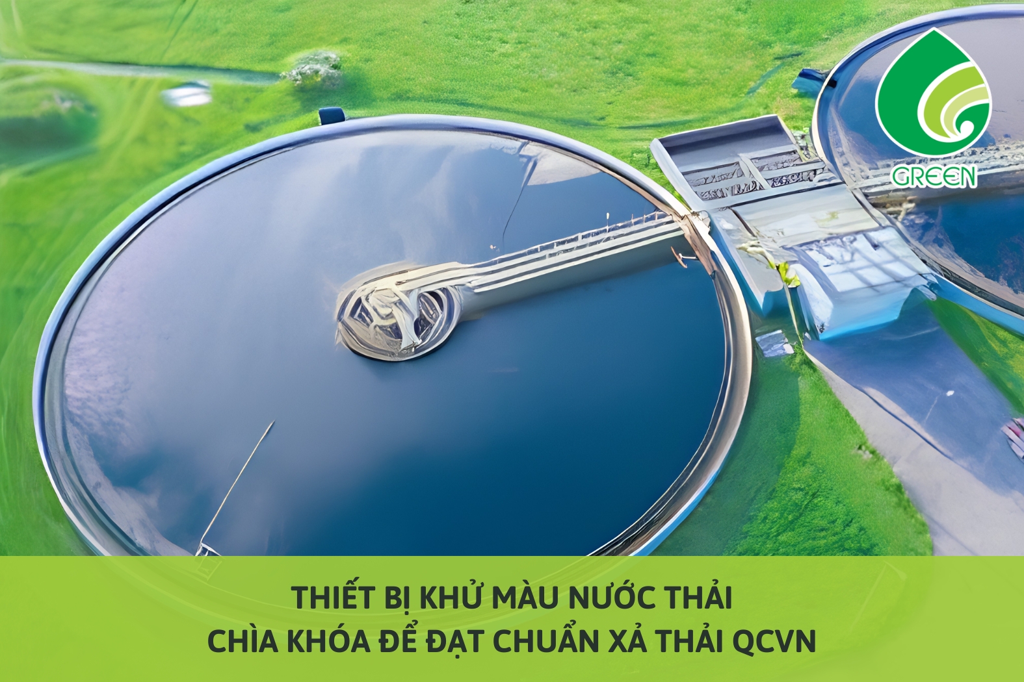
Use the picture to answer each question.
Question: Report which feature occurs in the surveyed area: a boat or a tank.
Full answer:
There is a tank in the scene.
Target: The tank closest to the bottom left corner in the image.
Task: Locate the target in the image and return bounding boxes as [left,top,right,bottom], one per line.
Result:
[31,115,752,651]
